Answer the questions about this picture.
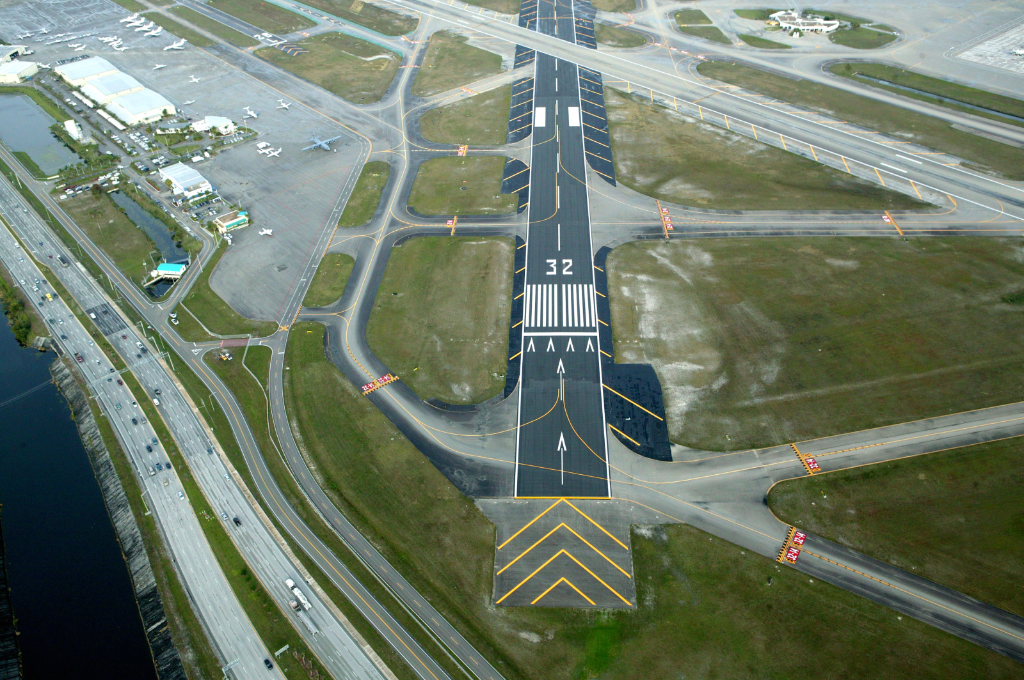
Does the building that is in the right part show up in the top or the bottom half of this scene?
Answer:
top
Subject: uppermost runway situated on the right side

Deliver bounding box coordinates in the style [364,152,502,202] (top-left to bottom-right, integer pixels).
[386,0,1024,219]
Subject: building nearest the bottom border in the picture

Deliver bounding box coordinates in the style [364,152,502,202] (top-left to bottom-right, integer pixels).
[157,264,188,280]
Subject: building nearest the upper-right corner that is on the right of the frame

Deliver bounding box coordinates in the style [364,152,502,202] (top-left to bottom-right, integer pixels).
[770,11,839,35]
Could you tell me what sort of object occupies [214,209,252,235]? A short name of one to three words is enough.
building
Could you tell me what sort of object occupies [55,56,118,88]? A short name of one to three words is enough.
hangar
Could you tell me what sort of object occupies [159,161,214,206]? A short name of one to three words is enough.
hangar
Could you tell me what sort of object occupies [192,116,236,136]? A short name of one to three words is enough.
building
